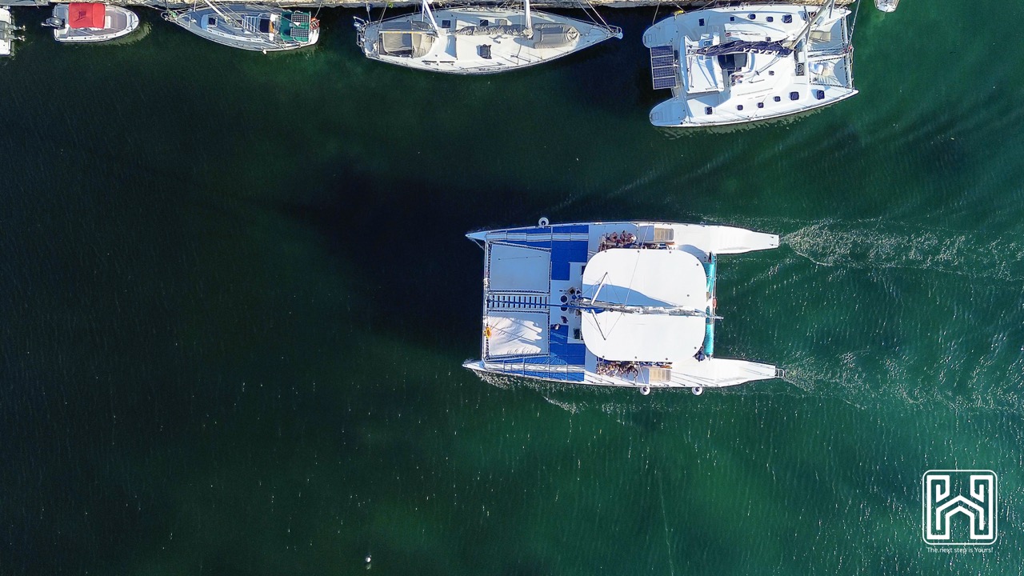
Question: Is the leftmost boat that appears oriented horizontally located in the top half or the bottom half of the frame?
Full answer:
The top half of the photo is where the leftmost boat that appears oriented horizontally is.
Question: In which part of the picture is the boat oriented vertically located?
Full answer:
You can find the boat oriented vertically in the top left area of the picture.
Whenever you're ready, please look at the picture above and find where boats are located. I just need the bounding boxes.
[354,0,626,75]
[40,3,143,43]
[162,0,321,52]
[641,0,866,129]
[464,222,785,389]
[869,0,898,12]
[0,6,26,60]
